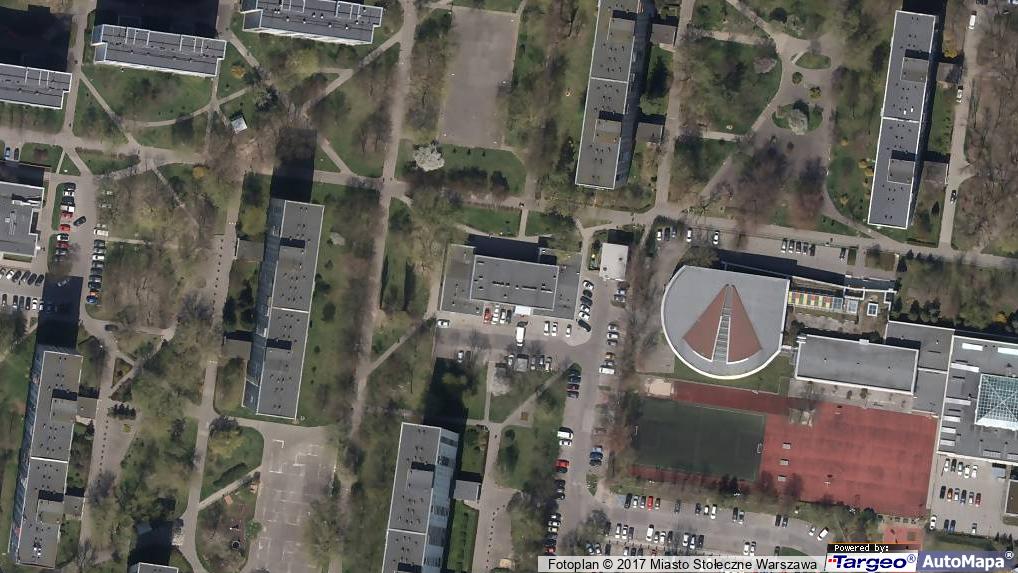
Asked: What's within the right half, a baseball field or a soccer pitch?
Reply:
soccer pitch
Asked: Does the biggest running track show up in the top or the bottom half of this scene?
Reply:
bottom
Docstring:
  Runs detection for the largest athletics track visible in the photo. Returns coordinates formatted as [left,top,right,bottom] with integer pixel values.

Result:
[643,380,824,415]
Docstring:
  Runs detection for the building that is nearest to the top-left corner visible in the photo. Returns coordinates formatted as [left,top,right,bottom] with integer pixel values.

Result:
[0,64,72,108]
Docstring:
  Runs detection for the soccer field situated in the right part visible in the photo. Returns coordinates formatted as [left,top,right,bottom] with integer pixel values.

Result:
[632,398,764,481]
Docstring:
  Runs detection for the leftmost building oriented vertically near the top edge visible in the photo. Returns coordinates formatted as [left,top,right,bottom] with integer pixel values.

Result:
[577,0,676,188]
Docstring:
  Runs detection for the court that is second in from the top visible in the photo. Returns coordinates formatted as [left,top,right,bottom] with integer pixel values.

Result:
[757,401,935,516]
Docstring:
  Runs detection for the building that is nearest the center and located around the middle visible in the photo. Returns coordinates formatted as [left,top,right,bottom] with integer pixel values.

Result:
[441,245,581,319]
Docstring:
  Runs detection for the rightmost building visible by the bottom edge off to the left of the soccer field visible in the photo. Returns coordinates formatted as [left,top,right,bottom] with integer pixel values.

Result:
[382,423,480,573]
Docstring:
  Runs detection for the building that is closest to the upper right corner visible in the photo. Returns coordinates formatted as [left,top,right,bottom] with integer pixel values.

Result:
[869,11,961,229]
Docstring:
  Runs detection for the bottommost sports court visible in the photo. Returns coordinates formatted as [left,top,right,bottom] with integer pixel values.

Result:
[874,525,924,573]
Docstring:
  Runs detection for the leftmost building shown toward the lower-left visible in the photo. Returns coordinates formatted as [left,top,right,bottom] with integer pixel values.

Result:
[7,346,100,568]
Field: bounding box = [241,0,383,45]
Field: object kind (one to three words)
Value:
building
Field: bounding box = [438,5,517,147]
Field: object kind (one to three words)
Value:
sports court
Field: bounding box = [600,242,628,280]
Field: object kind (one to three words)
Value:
building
